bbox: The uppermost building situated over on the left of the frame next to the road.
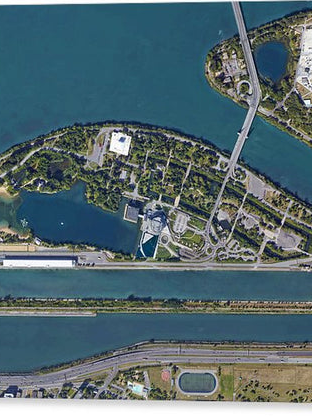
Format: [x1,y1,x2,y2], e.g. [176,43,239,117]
[109,132,131,156]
